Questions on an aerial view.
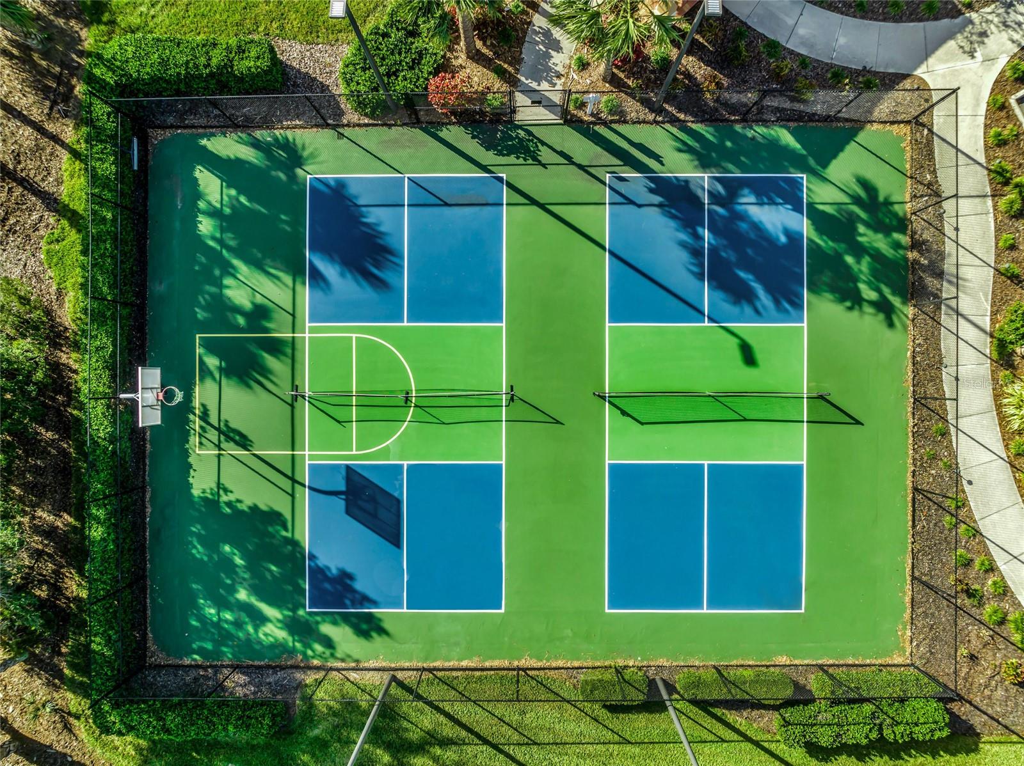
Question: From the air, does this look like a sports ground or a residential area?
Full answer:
The picture captures a sports ground.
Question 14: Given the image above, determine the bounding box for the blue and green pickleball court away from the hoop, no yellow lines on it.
[607,174,805,613]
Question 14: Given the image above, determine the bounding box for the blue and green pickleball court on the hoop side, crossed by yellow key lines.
[307,174,505,613]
